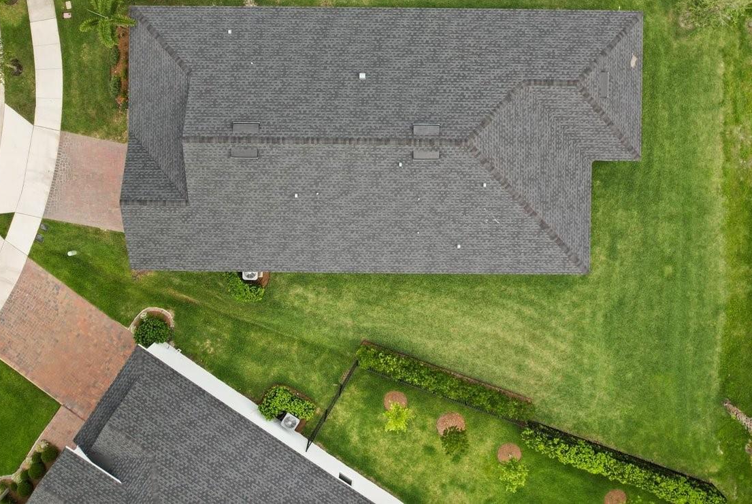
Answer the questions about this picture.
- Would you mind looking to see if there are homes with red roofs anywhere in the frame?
No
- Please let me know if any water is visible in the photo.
No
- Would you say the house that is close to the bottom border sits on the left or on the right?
left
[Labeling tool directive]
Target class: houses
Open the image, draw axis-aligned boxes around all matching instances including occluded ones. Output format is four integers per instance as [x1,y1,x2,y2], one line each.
[118,4,645,275]
[23,341,405,504]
